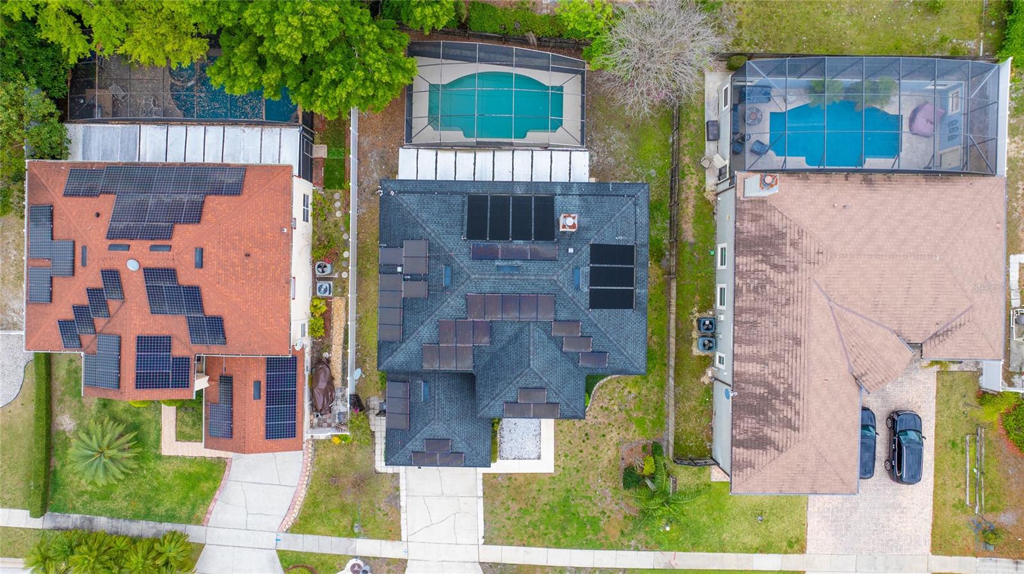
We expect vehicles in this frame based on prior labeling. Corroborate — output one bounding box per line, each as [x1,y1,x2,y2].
[886,409,929,484]
[859,406,882,480]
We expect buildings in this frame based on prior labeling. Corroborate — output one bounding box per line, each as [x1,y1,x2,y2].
[375,178,651,469]
[22,158,314,455]
[711,163,1008,497]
